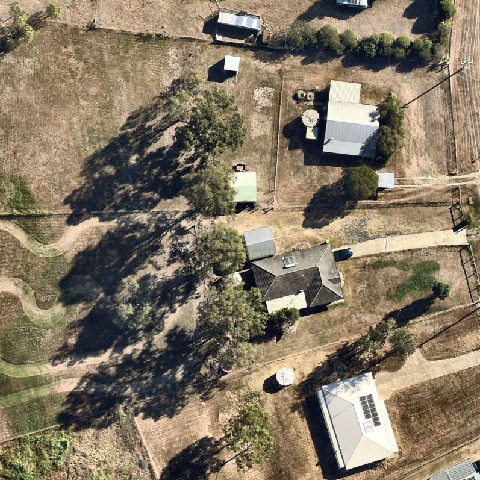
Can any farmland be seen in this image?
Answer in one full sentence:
Yes, the picture does contain farmland.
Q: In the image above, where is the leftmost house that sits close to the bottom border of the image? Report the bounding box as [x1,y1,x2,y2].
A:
[316,372,399,470]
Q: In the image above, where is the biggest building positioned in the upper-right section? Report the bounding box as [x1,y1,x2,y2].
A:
[323,80,379,159]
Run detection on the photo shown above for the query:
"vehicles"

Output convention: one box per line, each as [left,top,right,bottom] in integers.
[473,460,480,470]
[333,250,354,261]
[337,0,368,9]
